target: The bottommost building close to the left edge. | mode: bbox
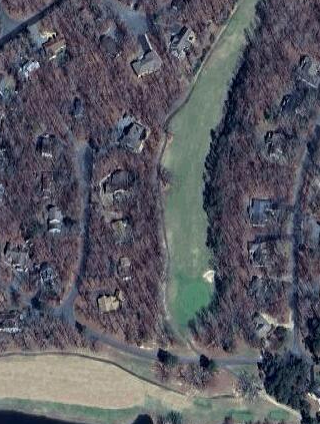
[0,314,22,331]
